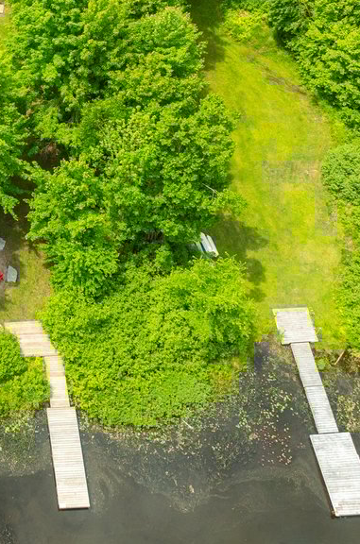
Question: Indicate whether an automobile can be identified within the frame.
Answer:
No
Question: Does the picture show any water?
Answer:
Yes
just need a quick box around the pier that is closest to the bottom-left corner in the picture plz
[46,405,91,512]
